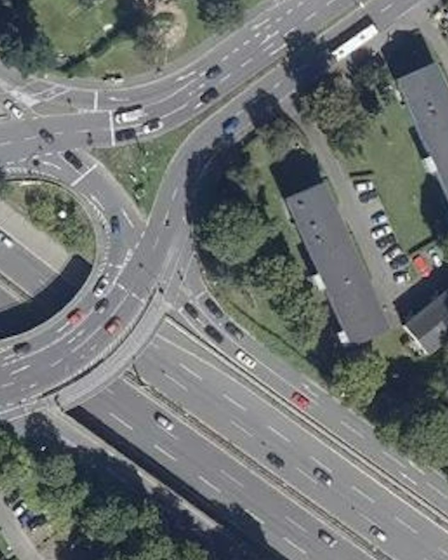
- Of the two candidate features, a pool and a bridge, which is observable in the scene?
bridge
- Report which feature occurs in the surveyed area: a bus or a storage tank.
bus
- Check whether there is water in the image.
No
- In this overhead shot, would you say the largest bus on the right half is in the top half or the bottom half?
top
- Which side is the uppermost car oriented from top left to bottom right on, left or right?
left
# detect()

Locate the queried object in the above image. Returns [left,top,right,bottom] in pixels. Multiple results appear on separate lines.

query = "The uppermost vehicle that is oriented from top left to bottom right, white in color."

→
[4,100,25,120]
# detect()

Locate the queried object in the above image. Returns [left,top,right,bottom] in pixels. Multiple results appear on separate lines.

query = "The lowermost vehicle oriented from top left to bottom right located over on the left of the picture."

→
[153,413,174,431]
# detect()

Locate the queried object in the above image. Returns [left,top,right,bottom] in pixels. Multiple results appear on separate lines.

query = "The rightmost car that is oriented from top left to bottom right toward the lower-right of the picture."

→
[367,524,388,542]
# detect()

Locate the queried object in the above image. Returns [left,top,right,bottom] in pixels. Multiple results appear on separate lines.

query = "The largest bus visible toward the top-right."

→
[326,24,379,57]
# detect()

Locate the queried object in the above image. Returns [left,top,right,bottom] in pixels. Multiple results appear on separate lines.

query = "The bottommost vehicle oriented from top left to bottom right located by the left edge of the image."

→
[0,231,15,249]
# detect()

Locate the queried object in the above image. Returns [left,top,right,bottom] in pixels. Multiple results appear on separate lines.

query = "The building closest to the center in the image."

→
[282,183,388,351]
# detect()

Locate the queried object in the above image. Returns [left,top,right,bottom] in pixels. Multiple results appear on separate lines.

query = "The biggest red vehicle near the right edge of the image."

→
[412,254,431,279]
